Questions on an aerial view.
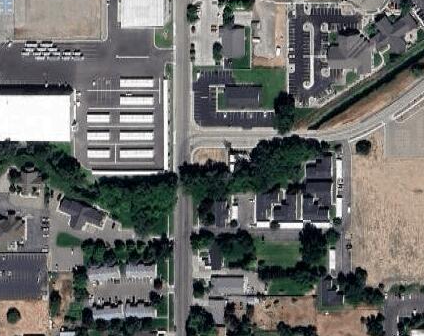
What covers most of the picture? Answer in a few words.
paved ground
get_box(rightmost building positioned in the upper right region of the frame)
[364,14,418,55]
